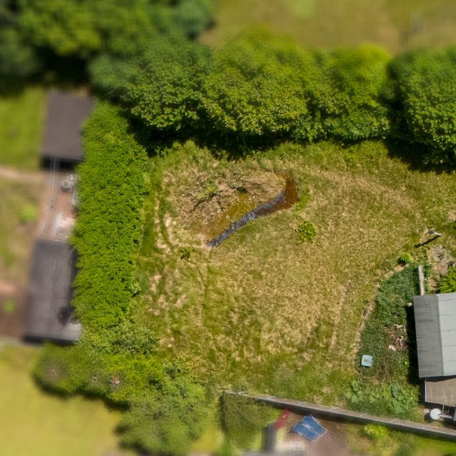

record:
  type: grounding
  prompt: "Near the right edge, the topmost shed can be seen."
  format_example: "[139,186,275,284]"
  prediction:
[413,293,456,378]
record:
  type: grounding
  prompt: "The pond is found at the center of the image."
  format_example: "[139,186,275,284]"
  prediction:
[197,172,302,247]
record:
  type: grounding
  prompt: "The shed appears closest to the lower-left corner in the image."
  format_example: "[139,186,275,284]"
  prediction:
[25,240,82,342]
